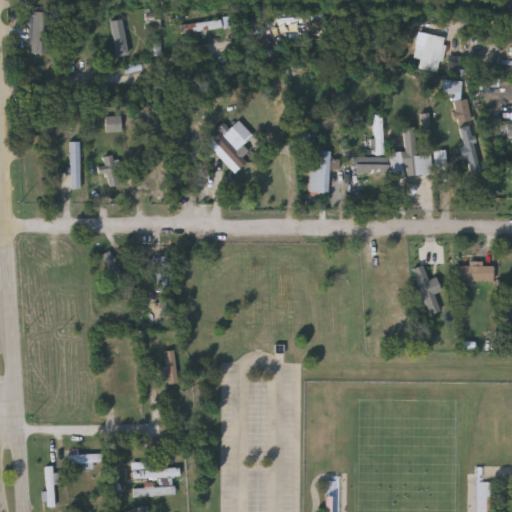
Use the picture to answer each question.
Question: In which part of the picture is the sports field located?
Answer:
bottom right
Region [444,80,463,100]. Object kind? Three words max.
building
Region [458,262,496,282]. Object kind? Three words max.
house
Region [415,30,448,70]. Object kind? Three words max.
building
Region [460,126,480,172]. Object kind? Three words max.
house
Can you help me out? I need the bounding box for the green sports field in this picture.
[355,400,460,512]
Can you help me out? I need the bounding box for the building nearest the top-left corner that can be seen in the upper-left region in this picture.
[29,12,46,54]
